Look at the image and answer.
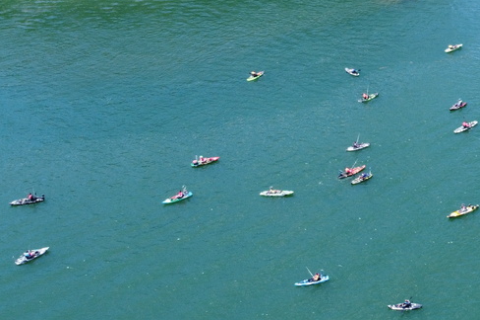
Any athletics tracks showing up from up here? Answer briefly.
No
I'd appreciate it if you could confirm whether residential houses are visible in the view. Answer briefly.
No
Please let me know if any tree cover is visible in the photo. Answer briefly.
No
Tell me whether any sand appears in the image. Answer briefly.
No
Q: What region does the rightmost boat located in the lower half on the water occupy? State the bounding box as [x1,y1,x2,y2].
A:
[448,204,479,217]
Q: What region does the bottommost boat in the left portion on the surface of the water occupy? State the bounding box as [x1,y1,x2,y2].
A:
[14,246,47,265]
